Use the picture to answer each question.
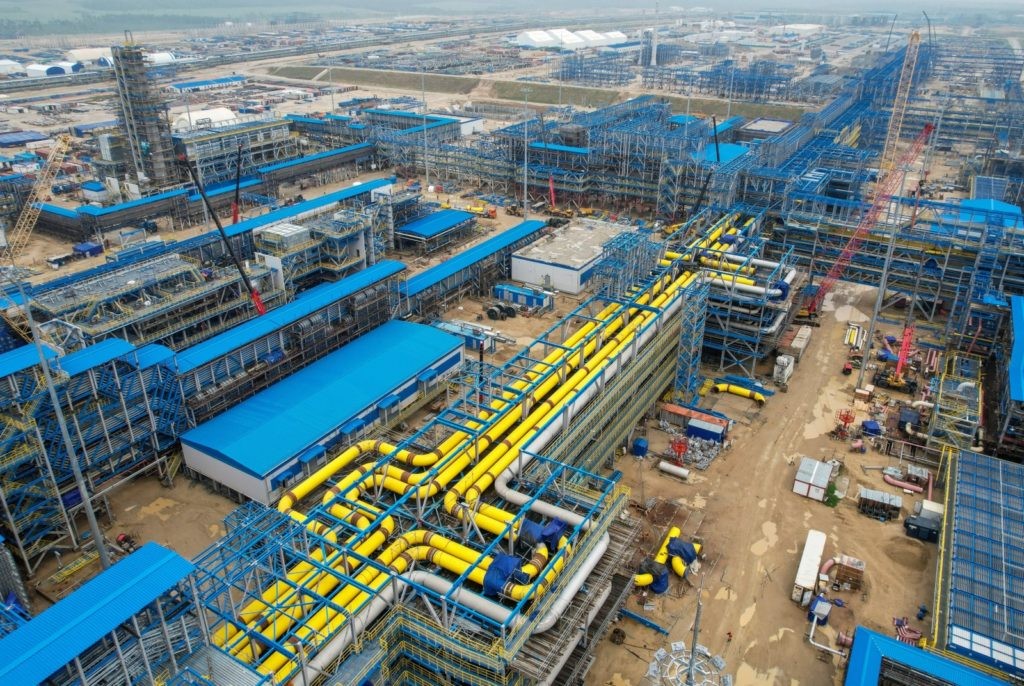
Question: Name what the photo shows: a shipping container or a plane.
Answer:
shipping container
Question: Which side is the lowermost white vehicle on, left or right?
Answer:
right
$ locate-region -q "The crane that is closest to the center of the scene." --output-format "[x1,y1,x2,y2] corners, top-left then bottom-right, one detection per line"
[539,179,573,217]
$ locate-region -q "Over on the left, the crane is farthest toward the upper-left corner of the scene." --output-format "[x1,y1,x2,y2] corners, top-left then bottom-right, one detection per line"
[0,137,86,272]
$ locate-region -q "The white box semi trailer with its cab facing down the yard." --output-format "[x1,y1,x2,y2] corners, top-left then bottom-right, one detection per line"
[783,528,825,628]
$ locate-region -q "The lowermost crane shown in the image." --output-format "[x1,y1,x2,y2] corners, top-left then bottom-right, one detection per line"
[866,319,929,398]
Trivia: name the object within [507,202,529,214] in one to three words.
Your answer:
vehicle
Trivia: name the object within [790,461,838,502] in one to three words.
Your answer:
building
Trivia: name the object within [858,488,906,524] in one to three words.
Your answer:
shed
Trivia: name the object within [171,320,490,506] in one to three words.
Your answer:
building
